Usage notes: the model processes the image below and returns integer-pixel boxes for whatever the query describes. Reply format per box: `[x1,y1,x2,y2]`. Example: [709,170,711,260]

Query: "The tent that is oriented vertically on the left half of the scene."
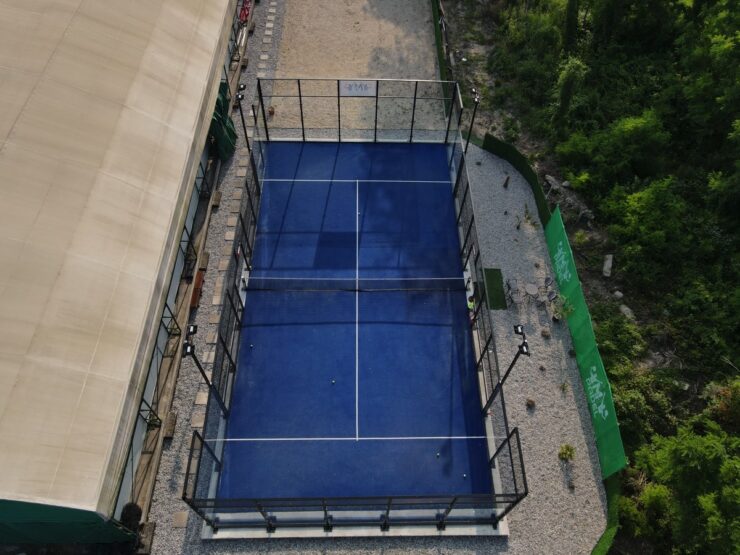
[0,0,247,546]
